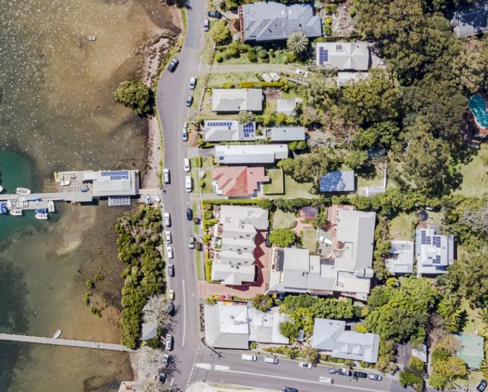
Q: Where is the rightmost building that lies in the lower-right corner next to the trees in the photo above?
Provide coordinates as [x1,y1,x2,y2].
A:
[451,333,485,368]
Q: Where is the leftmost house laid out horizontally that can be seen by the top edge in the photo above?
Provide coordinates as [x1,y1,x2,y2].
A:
[237,4,323,41]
